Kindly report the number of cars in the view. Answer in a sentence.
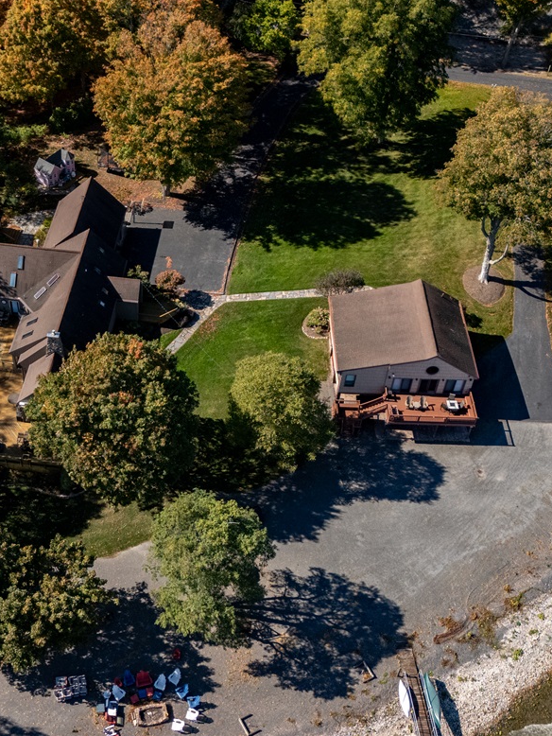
There are no cars in the image.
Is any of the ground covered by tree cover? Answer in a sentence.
Yes, the picture does contain tree cover.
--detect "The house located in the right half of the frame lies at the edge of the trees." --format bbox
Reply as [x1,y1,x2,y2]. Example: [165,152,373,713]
[325,279,480,411]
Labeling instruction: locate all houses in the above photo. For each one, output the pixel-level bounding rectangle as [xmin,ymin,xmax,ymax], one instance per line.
[325,279,480,411]
[0,175,143,426]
